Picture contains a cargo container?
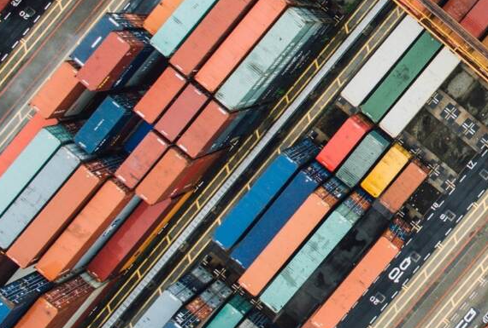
Yes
